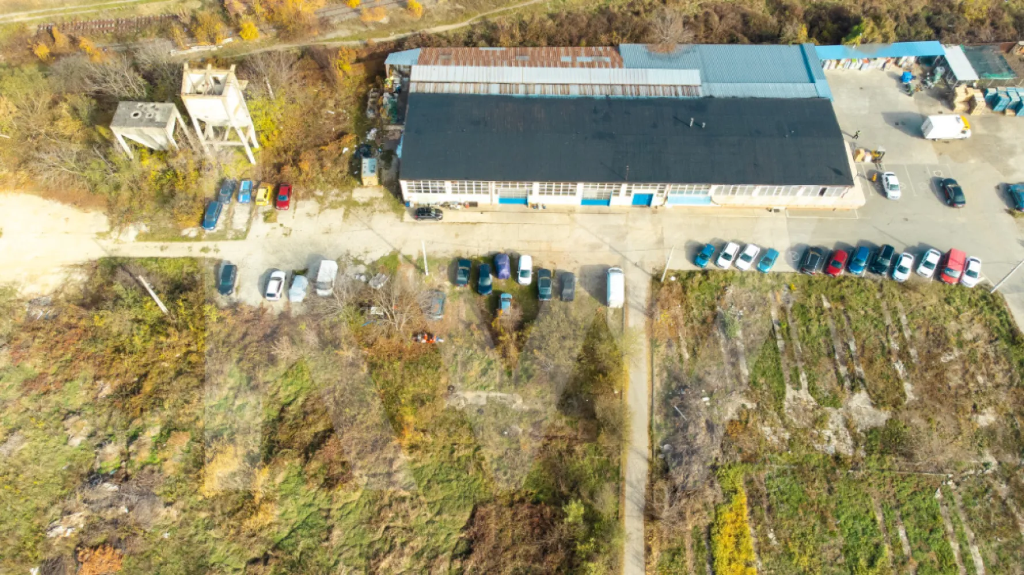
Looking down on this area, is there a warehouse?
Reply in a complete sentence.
Yes, I can see a warehouse in this picture.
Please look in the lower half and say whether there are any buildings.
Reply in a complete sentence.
No, no building appears in the lower half.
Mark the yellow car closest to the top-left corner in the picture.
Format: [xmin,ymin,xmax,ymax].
[254,181,274,207]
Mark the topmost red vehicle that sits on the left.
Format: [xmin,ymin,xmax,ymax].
[274,182,294,211]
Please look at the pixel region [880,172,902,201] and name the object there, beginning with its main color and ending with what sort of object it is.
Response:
white car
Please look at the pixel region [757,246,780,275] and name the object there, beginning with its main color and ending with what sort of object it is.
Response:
blue car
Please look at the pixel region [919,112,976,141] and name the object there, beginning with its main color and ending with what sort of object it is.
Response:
white truck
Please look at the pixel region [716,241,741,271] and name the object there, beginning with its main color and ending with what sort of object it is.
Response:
white car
